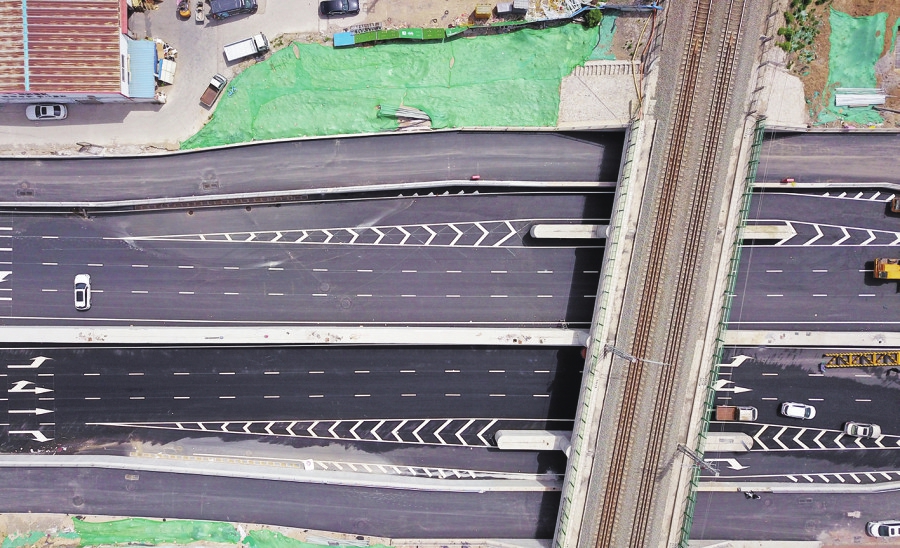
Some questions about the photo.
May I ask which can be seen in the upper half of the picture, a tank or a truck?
truck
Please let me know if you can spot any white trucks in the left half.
Yes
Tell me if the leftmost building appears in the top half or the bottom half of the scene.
top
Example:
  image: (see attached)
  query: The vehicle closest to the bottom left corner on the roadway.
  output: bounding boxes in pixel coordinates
[73,274,94,310]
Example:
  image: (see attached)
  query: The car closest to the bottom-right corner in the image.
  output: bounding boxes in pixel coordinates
[865,518,900,538]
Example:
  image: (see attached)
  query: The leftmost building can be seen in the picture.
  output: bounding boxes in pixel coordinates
[0,0,143,102]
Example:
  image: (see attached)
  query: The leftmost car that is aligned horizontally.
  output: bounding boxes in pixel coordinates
[28,104,69,121]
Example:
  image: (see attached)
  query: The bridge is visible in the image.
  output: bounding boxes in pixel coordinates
[541,0,763,548]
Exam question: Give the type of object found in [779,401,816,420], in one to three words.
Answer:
car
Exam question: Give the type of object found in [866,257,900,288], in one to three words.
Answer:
truck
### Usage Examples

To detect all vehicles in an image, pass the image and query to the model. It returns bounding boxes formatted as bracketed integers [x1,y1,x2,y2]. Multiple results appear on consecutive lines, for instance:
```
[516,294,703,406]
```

[842,420,881,438]
[865,518,900,538]
[73,274,94,310]
[205,0,260,23]
[221,31,274,63]
[321,0,359,15]
[866,257,900,288]
[715,405,758,423]
[28,104,69,121]
[200,74,228,108]
[779,401,816,420]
